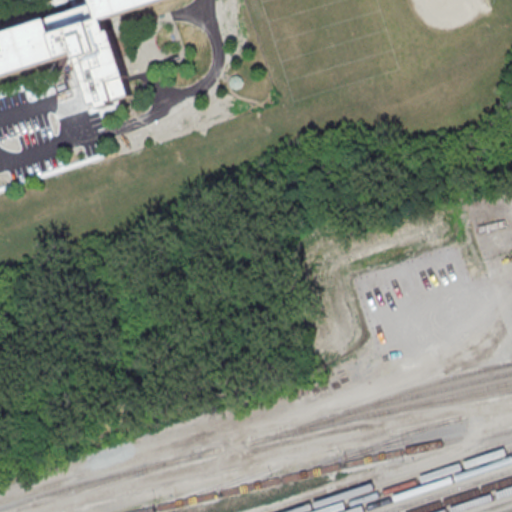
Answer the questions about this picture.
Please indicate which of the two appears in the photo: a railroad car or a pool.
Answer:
railroad car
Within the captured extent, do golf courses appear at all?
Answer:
No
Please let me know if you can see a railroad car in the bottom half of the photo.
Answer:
Yes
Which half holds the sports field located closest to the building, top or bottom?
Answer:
top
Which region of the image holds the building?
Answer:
top left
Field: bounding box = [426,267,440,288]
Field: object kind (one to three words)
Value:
vehicle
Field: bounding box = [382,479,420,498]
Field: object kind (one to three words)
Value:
rail car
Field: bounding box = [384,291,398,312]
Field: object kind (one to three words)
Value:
vehicle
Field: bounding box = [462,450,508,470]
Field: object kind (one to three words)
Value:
rail car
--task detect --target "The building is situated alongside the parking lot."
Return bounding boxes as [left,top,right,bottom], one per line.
[0,0,178,118]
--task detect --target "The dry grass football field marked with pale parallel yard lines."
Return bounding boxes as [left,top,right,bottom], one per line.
[261,0,400,103]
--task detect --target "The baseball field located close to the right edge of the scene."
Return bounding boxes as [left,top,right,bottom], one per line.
[411,0,492,31]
